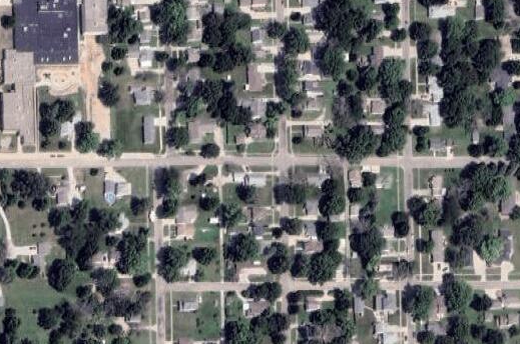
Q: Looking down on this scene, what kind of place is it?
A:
residential area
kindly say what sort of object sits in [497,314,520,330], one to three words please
house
